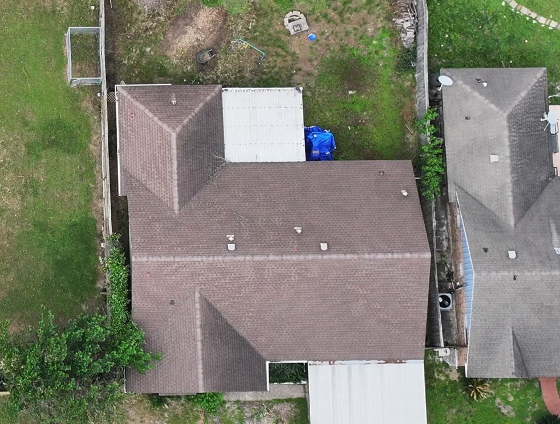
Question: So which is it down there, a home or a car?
home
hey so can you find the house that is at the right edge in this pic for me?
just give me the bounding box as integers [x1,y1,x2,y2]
[431,66,560,378]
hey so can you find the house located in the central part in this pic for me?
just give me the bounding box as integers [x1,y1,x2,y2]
[114,83,431,393]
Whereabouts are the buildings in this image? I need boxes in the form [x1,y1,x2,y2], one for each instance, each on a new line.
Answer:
[114,83,431,393]
[431,66,560,378]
